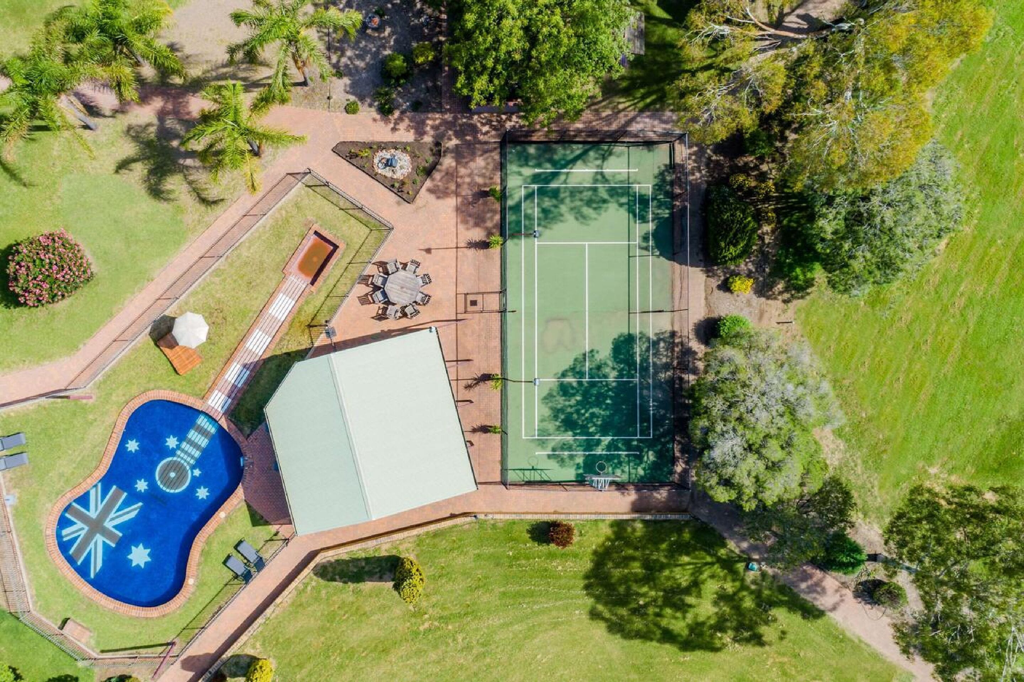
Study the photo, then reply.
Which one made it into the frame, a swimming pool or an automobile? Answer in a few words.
swimming pool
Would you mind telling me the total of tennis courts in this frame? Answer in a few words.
one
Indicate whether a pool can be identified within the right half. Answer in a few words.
No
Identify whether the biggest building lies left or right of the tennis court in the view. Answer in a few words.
on the left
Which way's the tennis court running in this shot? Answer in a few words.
vertically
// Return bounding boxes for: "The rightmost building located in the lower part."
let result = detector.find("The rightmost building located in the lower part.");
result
[262,317,480,536]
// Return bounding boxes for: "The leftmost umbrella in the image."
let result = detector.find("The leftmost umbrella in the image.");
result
[173,312,209,348]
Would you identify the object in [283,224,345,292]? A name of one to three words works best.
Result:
pond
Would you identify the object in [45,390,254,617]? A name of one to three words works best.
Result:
swimming pool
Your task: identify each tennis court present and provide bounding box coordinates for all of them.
[503,142,673,482]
